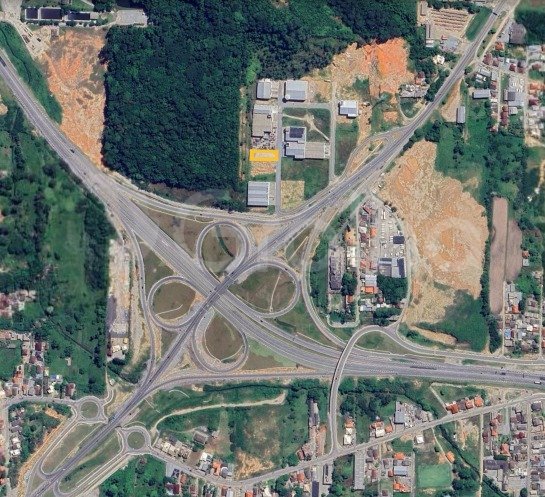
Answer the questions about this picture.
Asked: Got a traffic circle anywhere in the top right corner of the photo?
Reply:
No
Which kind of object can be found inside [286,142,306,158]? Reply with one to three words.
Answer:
building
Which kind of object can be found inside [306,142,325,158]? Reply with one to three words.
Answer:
building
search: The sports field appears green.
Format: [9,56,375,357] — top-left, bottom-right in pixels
[417,463,452,490]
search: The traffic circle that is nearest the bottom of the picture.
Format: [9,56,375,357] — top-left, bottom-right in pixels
[122,426,151,454]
